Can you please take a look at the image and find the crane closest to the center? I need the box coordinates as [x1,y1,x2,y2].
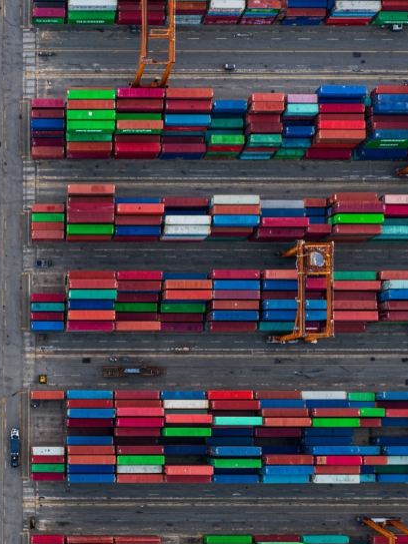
[271,240,337,340]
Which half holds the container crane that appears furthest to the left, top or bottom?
top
